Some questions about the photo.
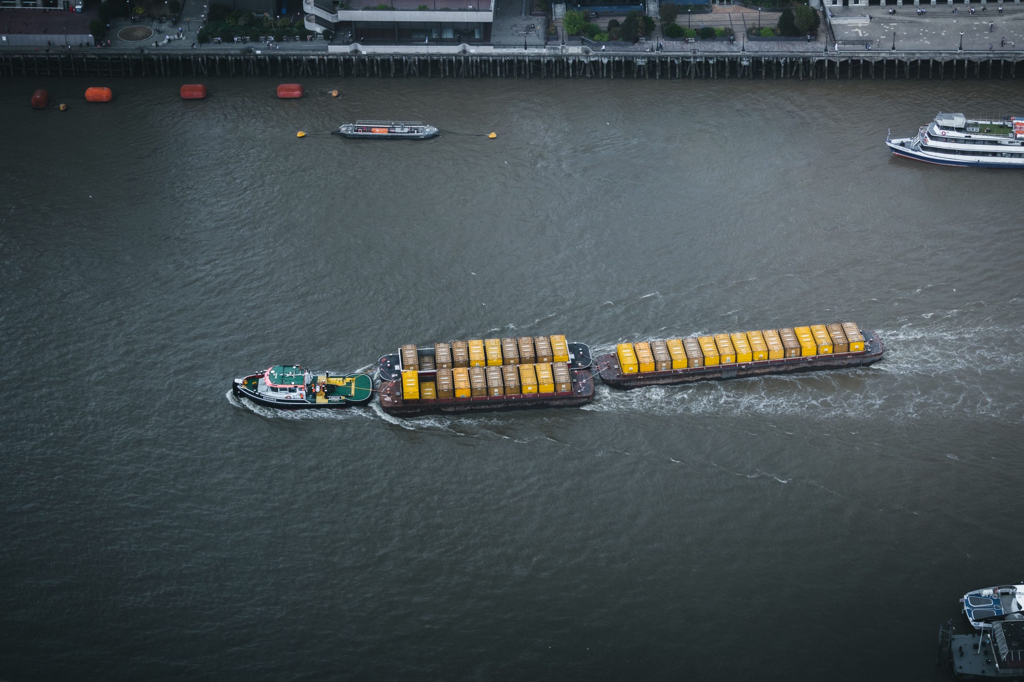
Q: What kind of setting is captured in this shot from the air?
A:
port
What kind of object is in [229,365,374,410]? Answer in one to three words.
boat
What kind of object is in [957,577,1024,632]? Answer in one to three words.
vessel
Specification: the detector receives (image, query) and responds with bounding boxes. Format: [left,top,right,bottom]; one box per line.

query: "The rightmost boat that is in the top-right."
[886,109,1024,170]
